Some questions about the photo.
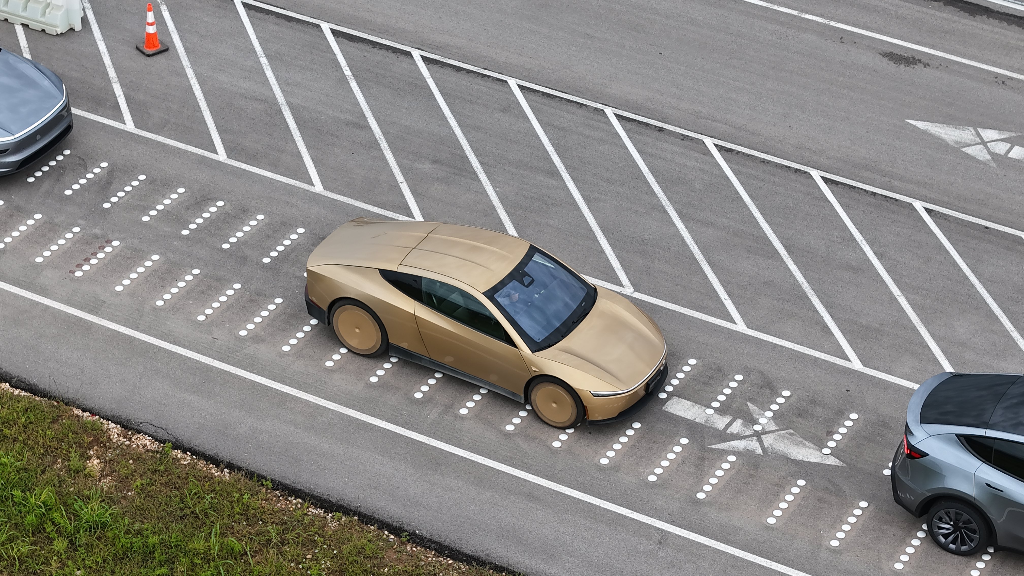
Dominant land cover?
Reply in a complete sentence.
The largest share of the image is taken up by paved ground.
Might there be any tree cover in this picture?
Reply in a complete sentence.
No, tree cover can't be seen anywhere here.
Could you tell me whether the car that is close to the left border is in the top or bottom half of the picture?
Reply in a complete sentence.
Seen from above, the car that is close to the left border lies in the top half of the view.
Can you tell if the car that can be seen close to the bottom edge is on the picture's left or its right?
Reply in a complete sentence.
You can find the car that can be seen close to the bottom edge on the right side of the picture.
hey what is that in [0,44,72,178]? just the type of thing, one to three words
car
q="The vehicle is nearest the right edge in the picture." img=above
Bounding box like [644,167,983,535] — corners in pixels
[891,369,1024,560]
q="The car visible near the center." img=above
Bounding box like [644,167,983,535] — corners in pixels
[307,214,672,427]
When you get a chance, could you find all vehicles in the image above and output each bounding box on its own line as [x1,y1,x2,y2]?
[0,44,72,178]
[891,369,1024,560]
[307,214,672,427]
